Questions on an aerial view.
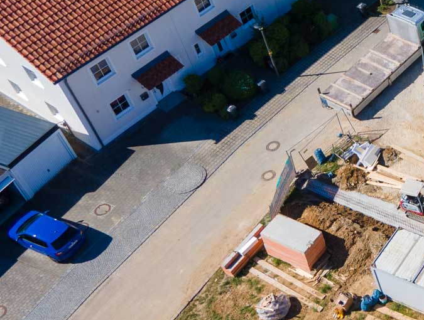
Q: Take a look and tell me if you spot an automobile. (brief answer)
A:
Yes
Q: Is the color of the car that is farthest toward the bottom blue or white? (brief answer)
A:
blue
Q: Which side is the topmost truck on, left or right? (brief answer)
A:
right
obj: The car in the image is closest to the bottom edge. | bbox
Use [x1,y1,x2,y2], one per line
[5,215,92,267]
